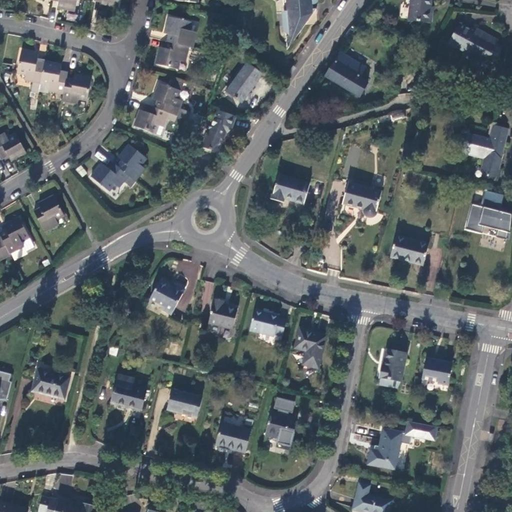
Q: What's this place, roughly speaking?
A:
residential area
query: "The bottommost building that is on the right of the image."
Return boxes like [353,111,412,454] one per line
[352,480,390,512]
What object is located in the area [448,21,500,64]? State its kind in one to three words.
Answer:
house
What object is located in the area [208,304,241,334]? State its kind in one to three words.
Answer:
house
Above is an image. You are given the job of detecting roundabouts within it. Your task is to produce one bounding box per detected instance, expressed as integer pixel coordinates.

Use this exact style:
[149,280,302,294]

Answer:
[178,192,235,248]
